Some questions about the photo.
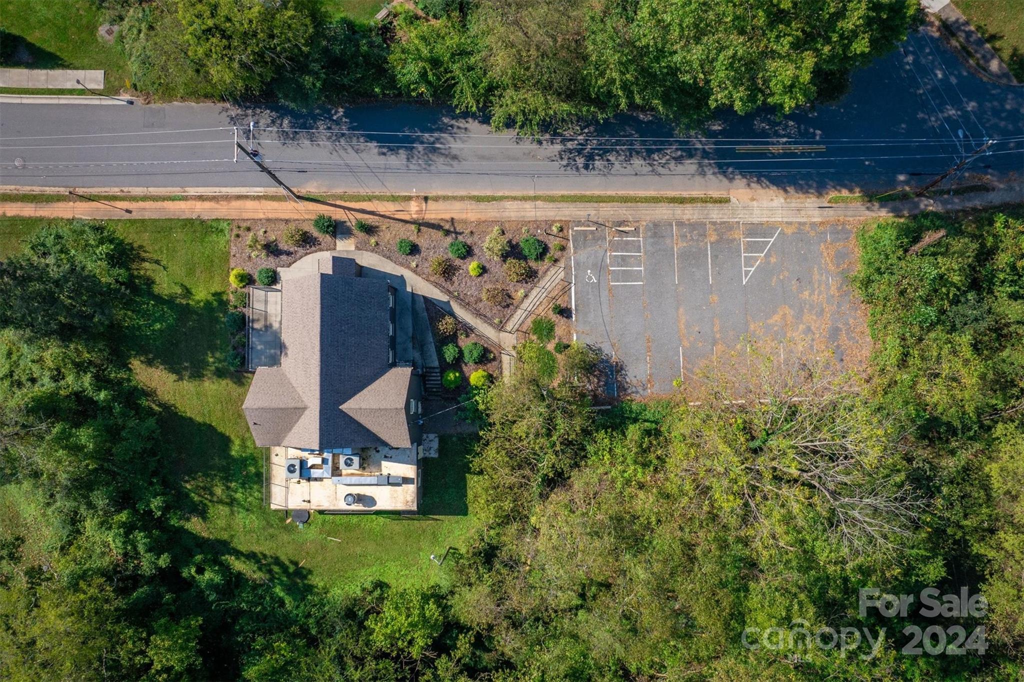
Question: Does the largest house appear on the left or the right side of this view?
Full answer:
The largest house sits on the left side.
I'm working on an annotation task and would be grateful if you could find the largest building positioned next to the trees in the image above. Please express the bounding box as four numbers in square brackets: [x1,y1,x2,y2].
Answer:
[240,254,423,510]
